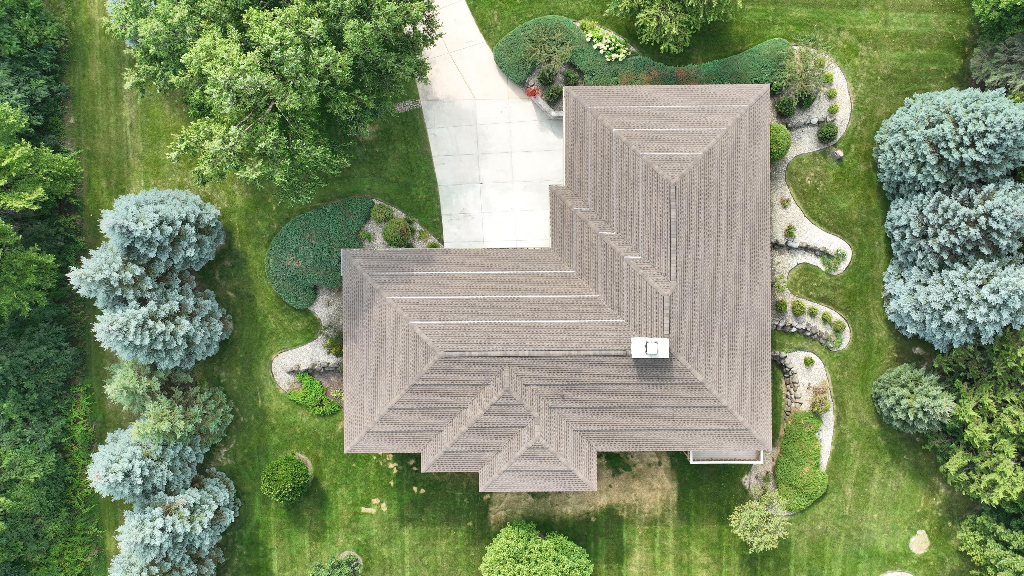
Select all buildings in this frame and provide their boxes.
[341,83,773,493]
